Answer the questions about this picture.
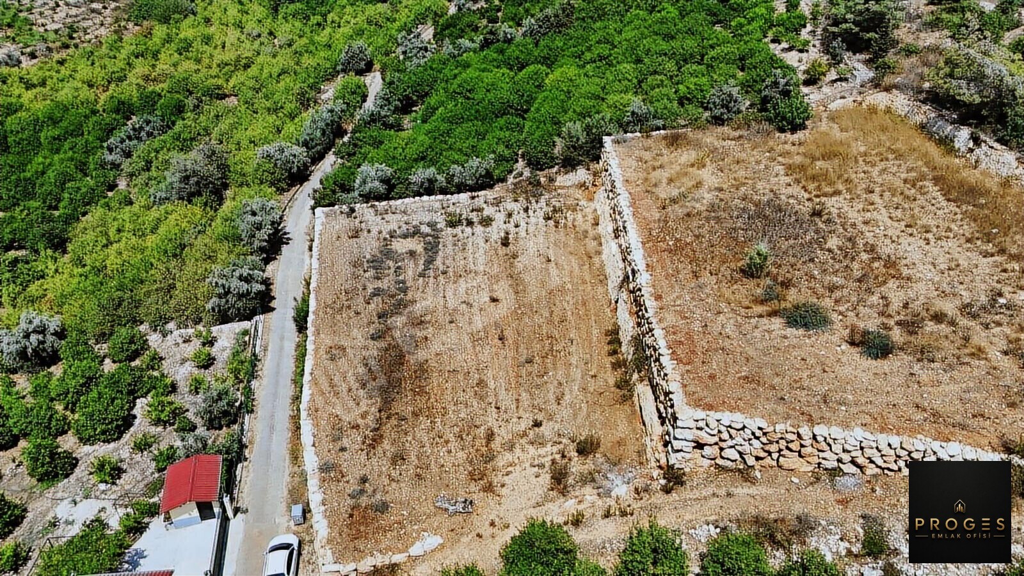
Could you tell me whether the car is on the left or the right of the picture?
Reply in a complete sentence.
The car sits on the left side.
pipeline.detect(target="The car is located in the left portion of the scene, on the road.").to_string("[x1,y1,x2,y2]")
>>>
[257,533,302,576]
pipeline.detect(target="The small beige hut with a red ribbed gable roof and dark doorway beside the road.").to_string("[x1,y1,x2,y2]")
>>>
[160,454,224,530]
